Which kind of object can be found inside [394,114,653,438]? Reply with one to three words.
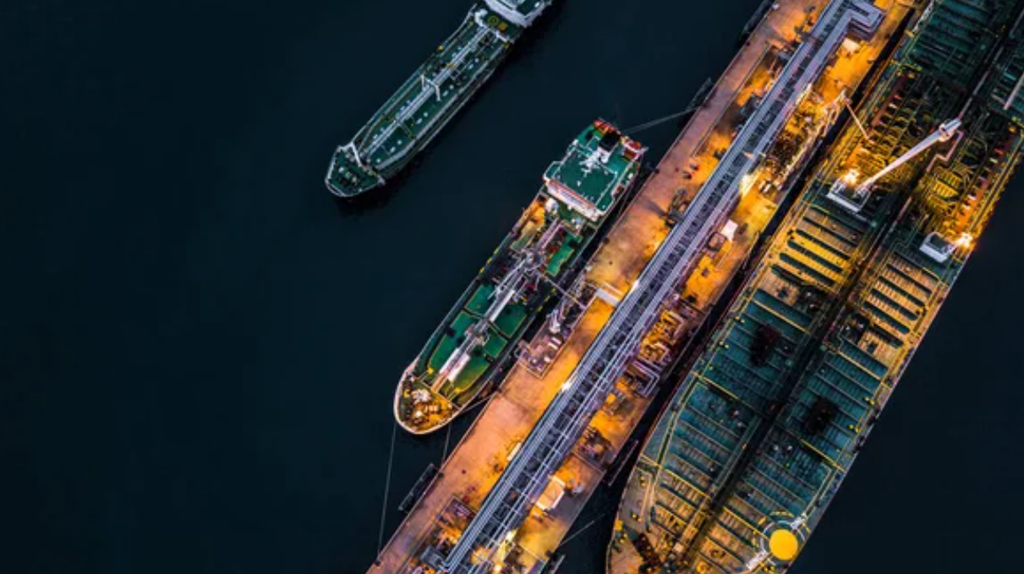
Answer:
ship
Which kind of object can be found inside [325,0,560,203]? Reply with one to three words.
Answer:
ship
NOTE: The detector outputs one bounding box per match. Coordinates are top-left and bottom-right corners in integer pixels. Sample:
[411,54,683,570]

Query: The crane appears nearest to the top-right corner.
[853,123,969,195]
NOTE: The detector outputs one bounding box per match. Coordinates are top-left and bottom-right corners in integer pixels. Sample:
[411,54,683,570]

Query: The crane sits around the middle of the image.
[485,234,537,294]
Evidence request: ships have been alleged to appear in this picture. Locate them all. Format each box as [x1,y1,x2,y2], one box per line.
[394,114,653,438]
[325,0,560,203]
[606,0,1024,574]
